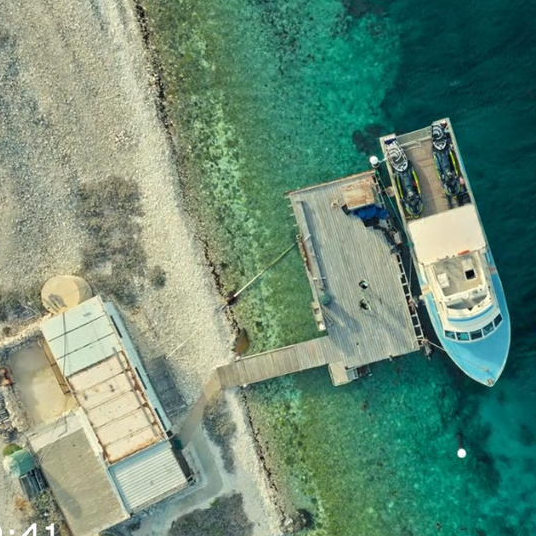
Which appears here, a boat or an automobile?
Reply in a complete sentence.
There is a boat in the scene.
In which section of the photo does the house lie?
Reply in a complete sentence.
The house sits in the bottom left section of the image.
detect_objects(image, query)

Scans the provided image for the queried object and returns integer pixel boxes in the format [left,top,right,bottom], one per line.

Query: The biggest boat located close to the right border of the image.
[379,117,512,389]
